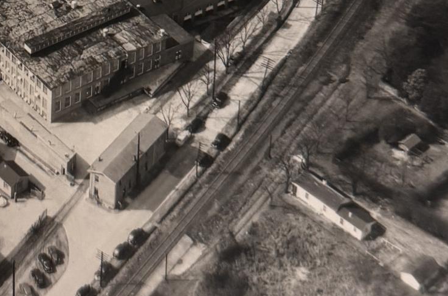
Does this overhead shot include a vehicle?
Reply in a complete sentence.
Yes, this view includes a vehicle.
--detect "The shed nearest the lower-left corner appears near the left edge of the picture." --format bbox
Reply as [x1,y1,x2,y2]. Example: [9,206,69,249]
[0,162,30,193]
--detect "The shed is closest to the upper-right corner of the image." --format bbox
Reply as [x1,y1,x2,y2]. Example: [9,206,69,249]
[392,132,421,158]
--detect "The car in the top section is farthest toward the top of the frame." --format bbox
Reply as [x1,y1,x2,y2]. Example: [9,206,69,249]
[208,89,231,106]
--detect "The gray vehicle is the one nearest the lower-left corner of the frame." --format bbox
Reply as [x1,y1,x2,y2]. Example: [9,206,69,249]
[17,281,38,296]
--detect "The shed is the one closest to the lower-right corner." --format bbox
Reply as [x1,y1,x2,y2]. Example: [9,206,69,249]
[395,252,442,294]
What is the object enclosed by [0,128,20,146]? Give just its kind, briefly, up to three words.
car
